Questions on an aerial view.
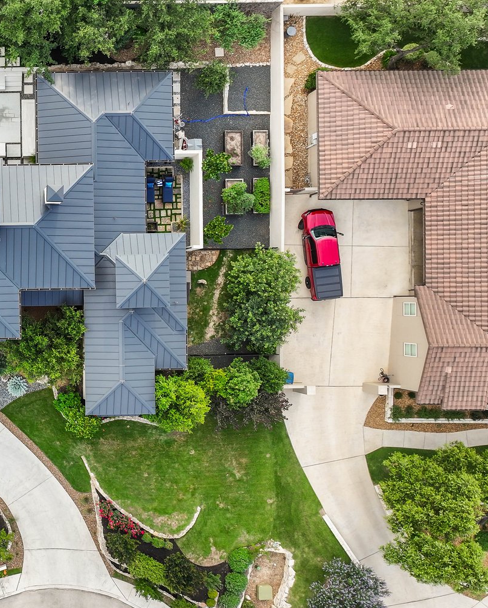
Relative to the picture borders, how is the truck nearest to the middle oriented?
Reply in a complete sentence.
What the image shows is the truck nearest to the middle lying from top to bottom.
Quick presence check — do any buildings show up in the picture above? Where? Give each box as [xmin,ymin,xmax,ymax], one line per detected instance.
[0,69,189,418]
[303,69,488,413]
